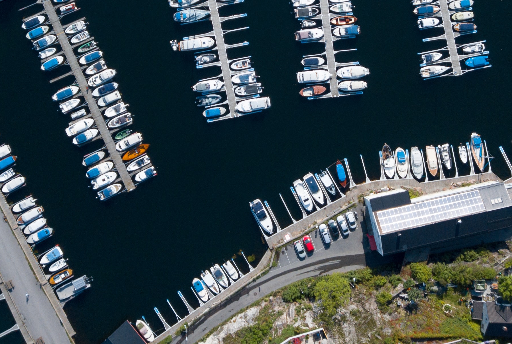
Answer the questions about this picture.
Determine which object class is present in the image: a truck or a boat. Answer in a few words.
boat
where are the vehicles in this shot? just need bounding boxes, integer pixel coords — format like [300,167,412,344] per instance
[320,224,331,243]
[293,240,307,259]
[345,211,357,229]
[328,219,340,237]
[302,234,314,253]
[338,215,349,234]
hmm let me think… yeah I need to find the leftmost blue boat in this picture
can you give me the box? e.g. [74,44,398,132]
[0,156,18,171]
